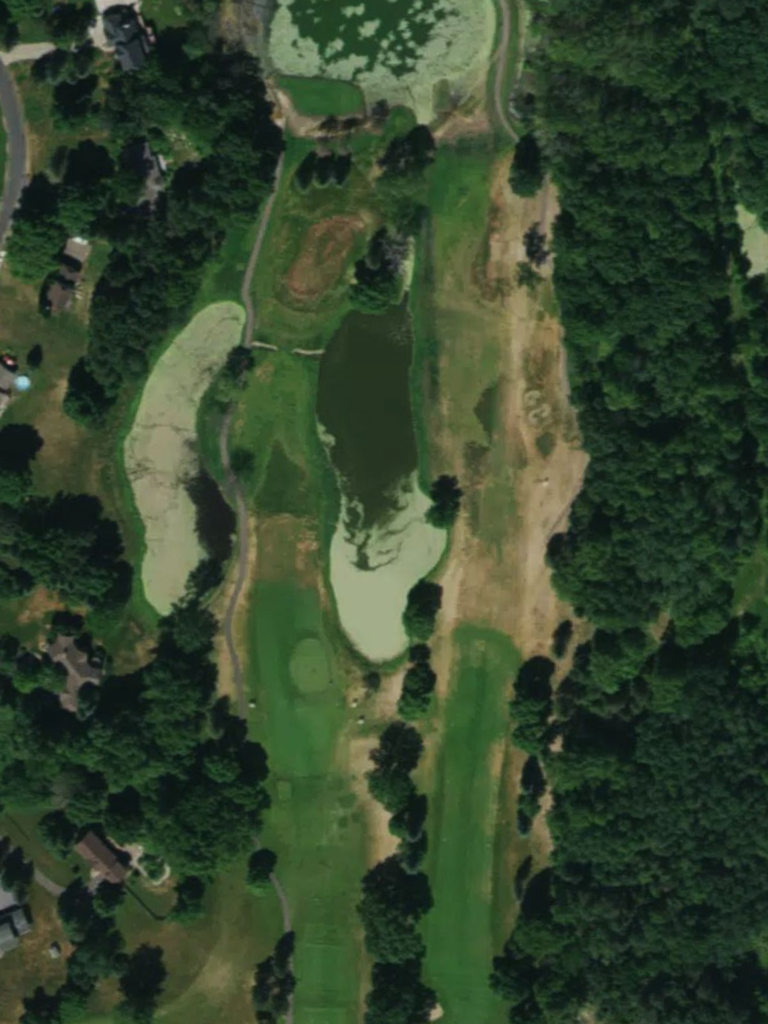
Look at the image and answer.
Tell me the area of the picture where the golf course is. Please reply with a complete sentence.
You can find the golf course in the center area of the picture.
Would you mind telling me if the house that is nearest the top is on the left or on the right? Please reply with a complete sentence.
The house that is nearest the top appears in the left half of the scene.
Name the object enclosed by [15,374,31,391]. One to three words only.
swimming pool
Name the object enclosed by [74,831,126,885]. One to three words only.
house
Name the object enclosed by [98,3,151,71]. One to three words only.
house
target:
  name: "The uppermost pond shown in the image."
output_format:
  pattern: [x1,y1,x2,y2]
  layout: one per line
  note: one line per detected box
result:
[263,0,500,126]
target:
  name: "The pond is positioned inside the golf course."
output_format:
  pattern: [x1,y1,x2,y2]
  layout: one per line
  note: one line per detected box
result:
[315,237,449,663]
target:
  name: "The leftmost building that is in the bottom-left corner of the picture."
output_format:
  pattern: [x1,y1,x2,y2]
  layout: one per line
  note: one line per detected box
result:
[0,911,29,951]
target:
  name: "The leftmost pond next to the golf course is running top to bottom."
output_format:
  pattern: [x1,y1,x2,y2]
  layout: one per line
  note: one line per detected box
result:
[123,300,246,617]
